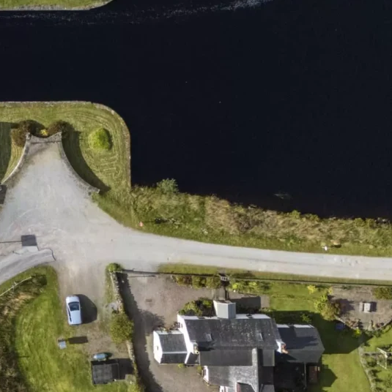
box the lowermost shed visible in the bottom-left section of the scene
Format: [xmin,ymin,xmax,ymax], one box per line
[89,357,120,384]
